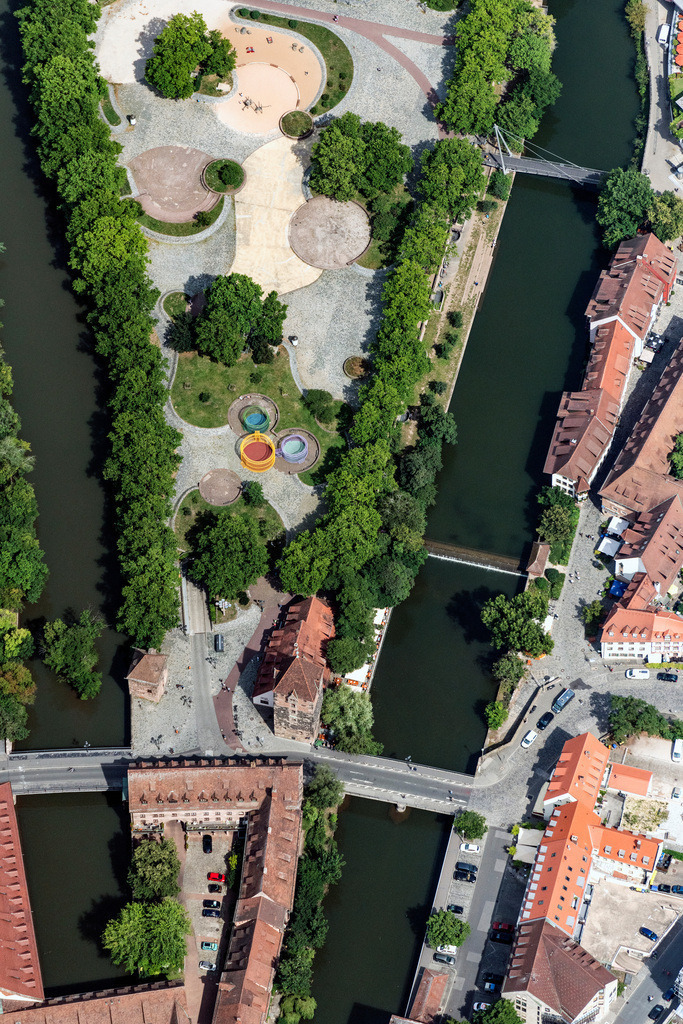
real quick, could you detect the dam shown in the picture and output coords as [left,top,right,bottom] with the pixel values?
[428,539,529,577]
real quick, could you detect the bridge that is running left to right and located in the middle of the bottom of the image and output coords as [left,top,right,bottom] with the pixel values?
[310,746,475,817]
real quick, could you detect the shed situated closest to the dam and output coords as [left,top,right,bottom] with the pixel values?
[526,543,551,586]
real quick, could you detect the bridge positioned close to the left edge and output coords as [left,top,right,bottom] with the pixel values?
[0,747,131,799]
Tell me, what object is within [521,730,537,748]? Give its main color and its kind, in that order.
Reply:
white car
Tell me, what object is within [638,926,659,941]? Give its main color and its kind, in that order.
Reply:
blue car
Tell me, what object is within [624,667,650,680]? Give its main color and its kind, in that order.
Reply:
white vehicle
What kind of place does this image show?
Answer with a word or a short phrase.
residential area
